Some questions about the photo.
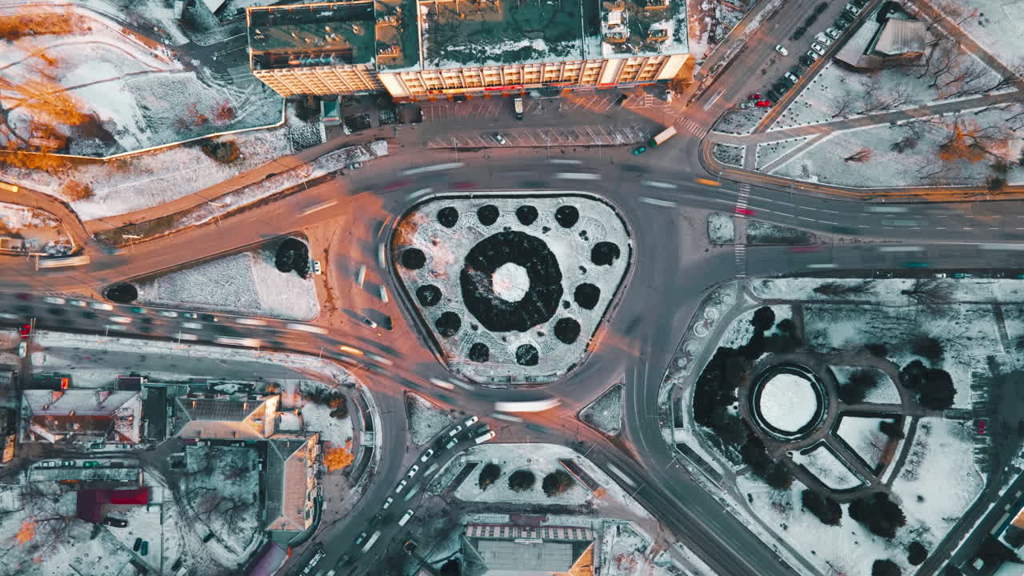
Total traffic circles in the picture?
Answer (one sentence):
Altogether the scene contains 1 traffic circle.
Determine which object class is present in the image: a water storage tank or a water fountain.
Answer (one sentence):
It is a water fountain that can be seen here.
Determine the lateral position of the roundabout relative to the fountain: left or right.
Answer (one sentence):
To the left of the fountain is where the roundabout appears.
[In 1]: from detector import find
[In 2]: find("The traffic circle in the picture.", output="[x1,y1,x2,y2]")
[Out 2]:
[387,191,637,389]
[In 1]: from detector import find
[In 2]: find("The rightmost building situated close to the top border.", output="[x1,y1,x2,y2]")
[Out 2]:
[833,19,926,69]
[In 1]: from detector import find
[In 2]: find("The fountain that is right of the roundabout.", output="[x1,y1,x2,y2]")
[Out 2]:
[750,364,828,441]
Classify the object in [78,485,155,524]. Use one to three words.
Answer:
house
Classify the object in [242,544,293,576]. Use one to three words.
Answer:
building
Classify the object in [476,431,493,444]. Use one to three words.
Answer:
vehicle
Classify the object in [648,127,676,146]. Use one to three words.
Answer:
vehicle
